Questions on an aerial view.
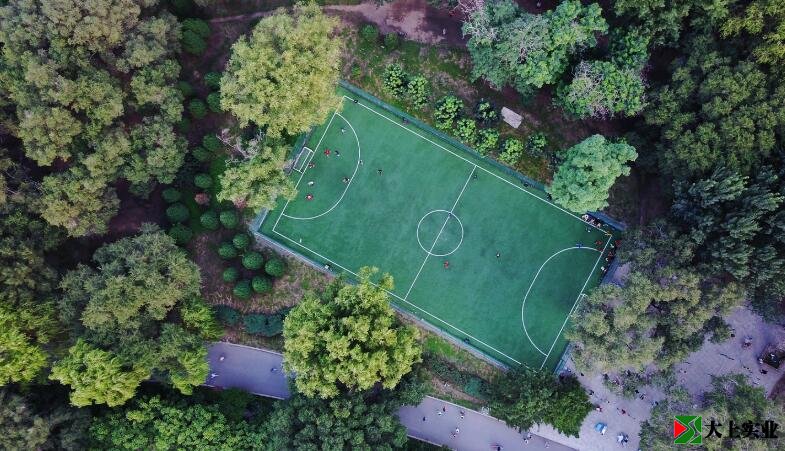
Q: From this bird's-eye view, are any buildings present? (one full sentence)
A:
No, there is no building in the image.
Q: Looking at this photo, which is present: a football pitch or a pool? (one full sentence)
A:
The image shows a football pitch.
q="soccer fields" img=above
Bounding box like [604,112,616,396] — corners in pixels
[261,87,621,380]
